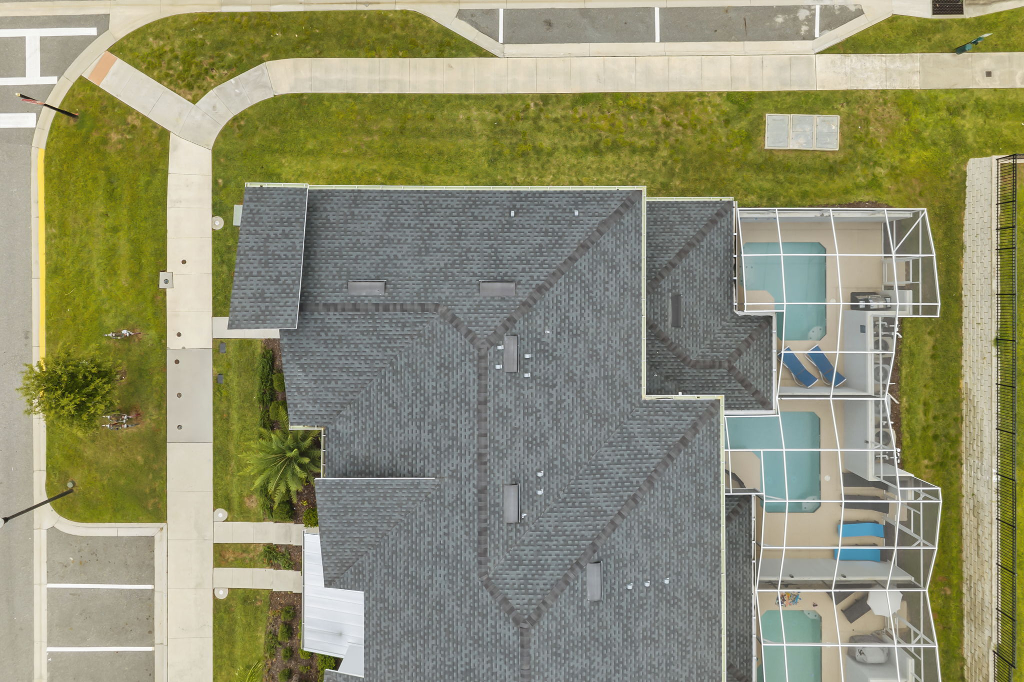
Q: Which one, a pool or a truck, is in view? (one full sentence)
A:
There is a pool in the scene.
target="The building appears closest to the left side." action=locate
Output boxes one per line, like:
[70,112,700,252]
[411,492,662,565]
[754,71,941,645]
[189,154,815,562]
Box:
[228,183,780,682]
